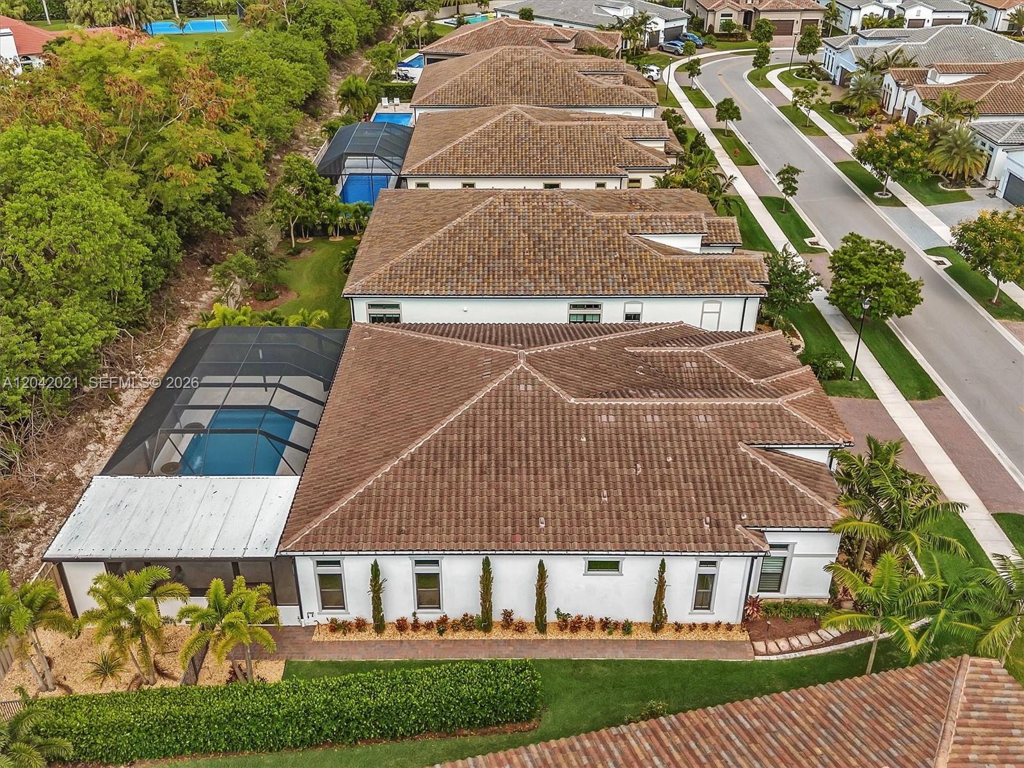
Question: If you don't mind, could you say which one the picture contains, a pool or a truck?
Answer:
pool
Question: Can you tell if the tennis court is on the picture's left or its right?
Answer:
left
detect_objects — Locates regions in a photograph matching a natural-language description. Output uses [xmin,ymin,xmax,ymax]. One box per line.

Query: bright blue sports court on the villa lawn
[138,0,229,34]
